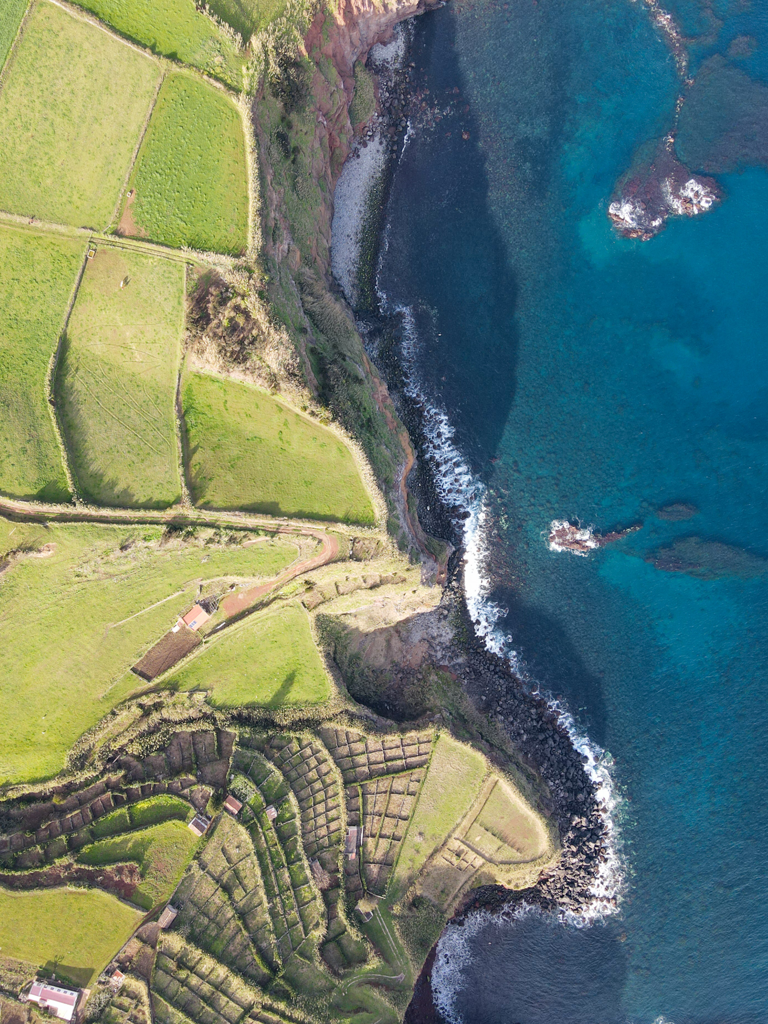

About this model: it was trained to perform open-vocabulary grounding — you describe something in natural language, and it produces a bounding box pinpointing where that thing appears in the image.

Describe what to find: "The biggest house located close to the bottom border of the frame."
[29,978,81,1012]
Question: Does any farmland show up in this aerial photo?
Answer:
Yes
